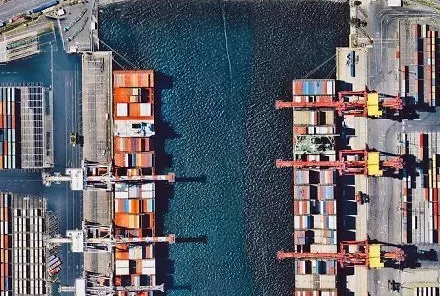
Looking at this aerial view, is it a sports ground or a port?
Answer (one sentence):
This looks like a port.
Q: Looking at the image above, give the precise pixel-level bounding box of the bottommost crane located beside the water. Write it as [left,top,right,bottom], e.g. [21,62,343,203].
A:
[56,273,165,296]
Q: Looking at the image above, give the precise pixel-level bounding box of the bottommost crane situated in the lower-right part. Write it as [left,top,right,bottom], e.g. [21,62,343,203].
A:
[274,239,407,273]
